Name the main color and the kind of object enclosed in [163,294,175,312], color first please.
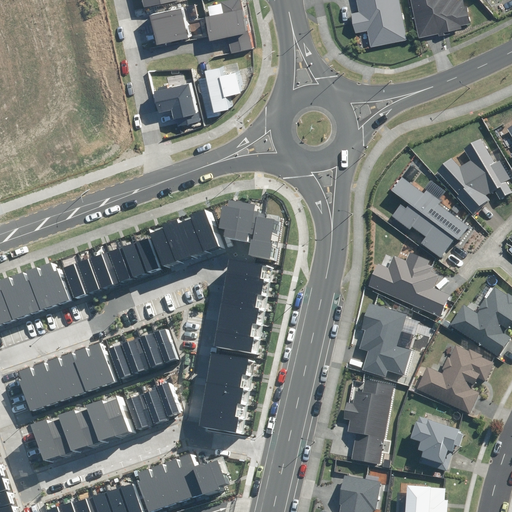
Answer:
white vehicle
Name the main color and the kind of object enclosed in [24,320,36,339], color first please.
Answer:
white vehicle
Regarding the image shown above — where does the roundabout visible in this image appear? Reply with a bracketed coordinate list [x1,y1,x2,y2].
[292,106,336,150]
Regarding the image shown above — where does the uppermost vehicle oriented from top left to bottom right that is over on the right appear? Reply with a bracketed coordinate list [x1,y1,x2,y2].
[479,204,495,222]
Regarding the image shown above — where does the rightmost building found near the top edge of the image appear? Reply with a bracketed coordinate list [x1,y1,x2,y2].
[410,0,470,38]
